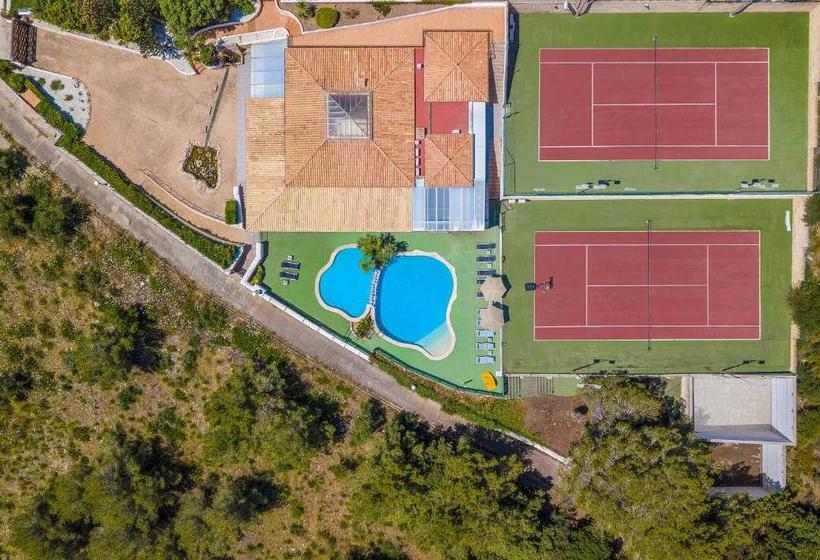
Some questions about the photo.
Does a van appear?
No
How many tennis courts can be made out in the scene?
2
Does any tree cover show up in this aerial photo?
Yes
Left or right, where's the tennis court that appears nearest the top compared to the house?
right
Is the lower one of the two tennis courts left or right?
right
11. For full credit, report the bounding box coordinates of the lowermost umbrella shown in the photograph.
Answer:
[479,304,504,332]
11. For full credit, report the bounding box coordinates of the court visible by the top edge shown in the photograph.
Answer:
[502,13,809,195]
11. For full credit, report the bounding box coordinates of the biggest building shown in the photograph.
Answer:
[245,29,491,232]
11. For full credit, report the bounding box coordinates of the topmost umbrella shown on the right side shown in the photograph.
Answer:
[479,276,507,302]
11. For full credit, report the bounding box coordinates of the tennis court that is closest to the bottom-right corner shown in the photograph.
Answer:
[504,199,793,374]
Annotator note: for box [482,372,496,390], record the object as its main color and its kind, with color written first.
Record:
yellow boat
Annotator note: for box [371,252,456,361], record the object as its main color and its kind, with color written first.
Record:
blue swimming pool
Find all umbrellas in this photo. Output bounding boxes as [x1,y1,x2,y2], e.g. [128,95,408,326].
[479,304,504,332]
[479,276,507,302]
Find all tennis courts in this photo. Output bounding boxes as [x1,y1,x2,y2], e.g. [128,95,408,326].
[504,199,793,374]
[502,13,809,195]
